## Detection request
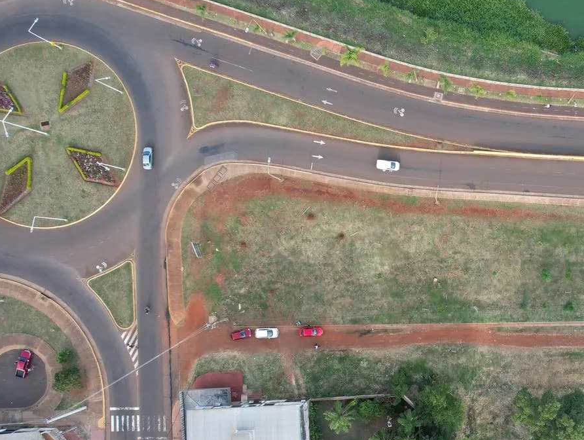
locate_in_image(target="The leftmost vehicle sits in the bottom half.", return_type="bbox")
[12,349,33,381]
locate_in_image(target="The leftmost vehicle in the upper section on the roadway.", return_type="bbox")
[139,146,153,171]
